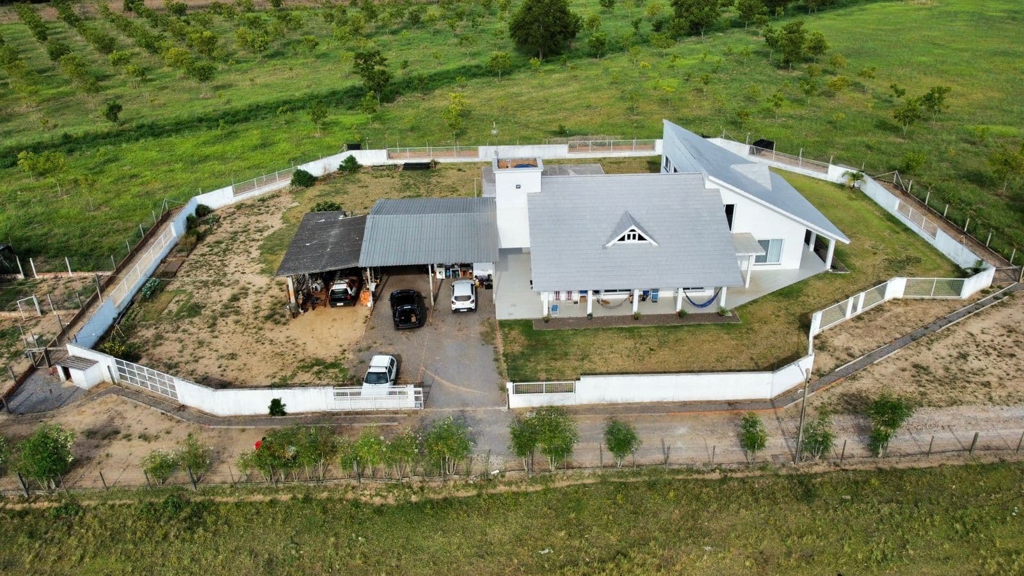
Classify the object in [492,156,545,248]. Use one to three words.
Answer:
water tower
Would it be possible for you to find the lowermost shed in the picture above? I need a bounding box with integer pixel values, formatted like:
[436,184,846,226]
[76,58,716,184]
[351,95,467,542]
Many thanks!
[48,346,109,389]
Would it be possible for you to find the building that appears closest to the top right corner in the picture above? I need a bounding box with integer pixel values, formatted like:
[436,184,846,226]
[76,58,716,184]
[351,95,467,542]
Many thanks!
[500,117,854,313]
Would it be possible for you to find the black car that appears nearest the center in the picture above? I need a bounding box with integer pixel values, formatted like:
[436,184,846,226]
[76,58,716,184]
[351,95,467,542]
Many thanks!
[391,292,424,330]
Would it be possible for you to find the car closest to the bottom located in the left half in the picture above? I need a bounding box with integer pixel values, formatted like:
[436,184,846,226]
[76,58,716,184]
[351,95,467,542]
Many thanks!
[361,355,397,394]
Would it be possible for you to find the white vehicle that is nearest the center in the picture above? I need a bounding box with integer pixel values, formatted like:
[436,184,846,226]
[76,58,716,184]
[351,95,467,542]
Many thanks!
[451,282,479,314]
